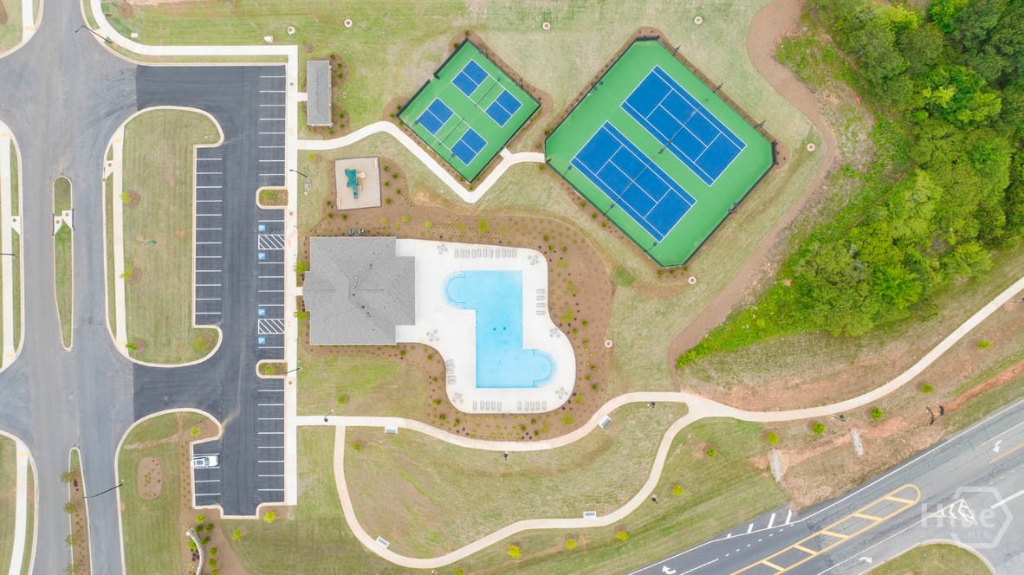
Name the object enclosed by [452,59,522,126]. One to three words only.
sports court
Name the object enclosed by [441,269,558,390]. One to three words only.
swimming pool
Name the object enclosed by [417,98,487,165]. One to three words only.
sports court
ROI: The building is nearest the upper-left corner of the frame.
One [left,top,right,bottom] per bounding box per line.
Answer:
[306,59,333,128]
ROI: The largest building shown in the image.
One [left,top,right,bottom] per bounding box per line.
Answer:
[302,236,416,345]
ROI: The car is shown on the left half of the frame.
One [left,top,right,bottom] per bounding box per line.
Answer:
[191,455,219,467]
